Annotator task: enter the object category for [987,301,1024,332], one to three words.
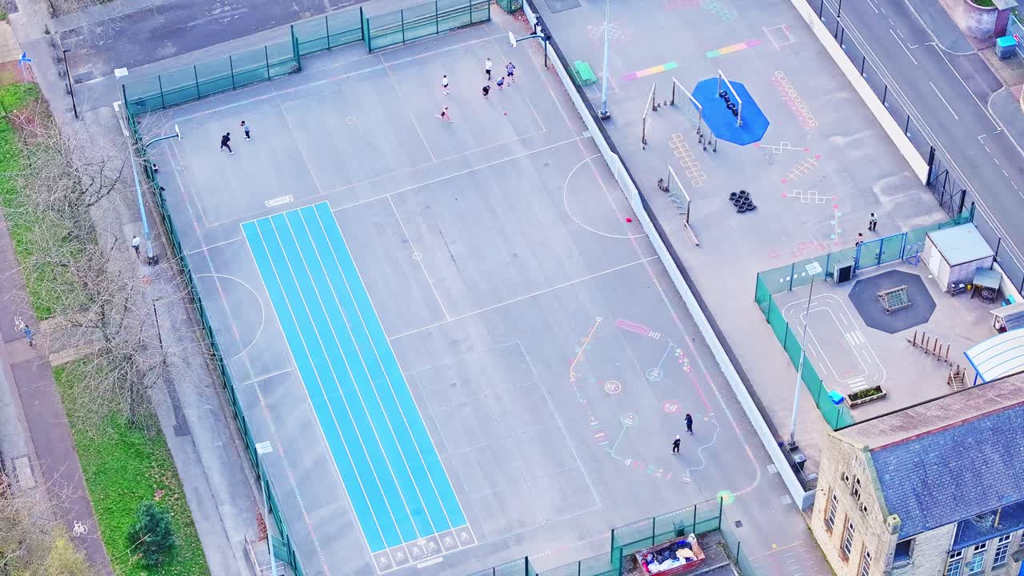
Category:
shed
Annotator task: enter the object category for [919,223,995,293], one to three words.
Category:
shed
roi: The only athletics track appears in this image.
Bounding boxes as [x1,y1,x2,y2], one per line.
[243,202,467,552]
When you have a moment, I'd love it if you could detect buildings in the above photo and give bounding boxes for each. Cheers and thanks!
[919,223,995,293]
[811,367,1024,576]
[987,301,1024,332]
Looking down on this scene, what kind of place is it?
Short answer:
sports ground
